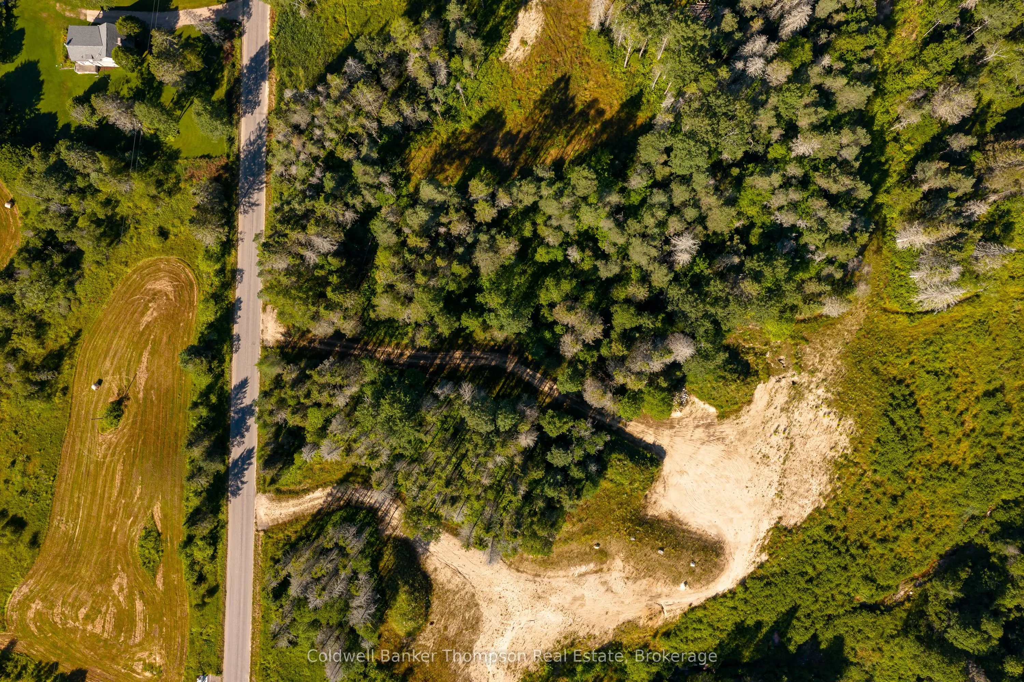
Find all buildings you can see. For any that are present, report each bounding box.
[64,22,134,76]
